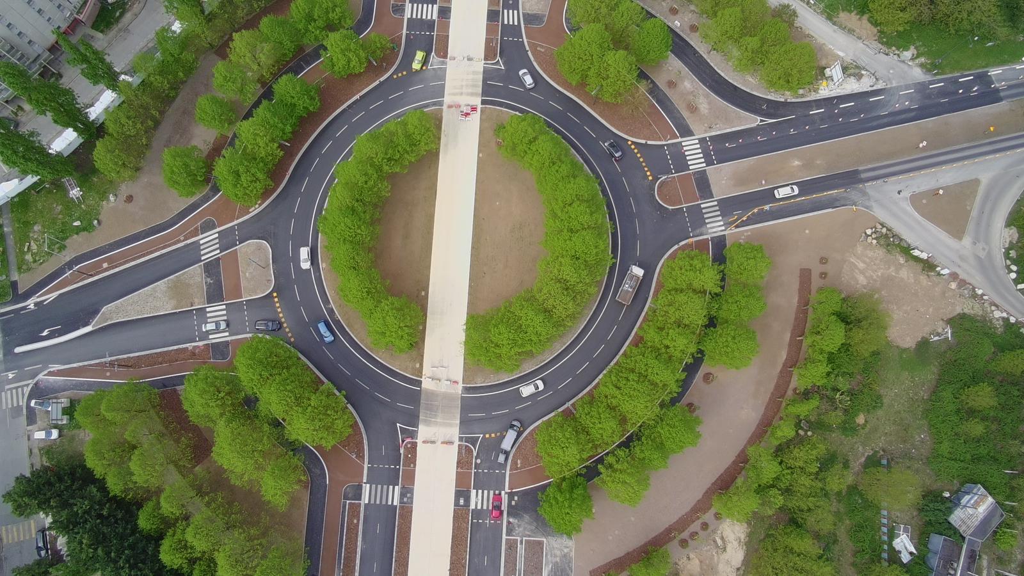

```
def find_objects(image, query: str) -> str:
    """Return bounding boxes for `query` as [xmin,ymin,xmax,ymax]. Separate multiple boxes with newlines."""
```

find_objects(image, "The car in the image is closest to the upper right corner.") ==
[774,183,799,197]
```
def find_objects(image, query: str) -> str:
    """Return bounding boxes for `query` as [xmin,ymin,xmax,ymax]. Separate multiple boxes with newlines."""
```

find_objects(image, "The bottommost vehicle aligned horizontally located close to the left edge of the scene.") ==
[29,428,57,441]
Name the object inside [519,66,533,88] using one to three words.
car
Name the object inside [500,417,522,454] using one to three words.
vehicle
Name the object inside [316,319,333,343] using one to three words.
car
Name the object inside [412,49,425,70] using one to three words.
vehicle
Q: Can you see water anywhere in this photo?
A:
No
